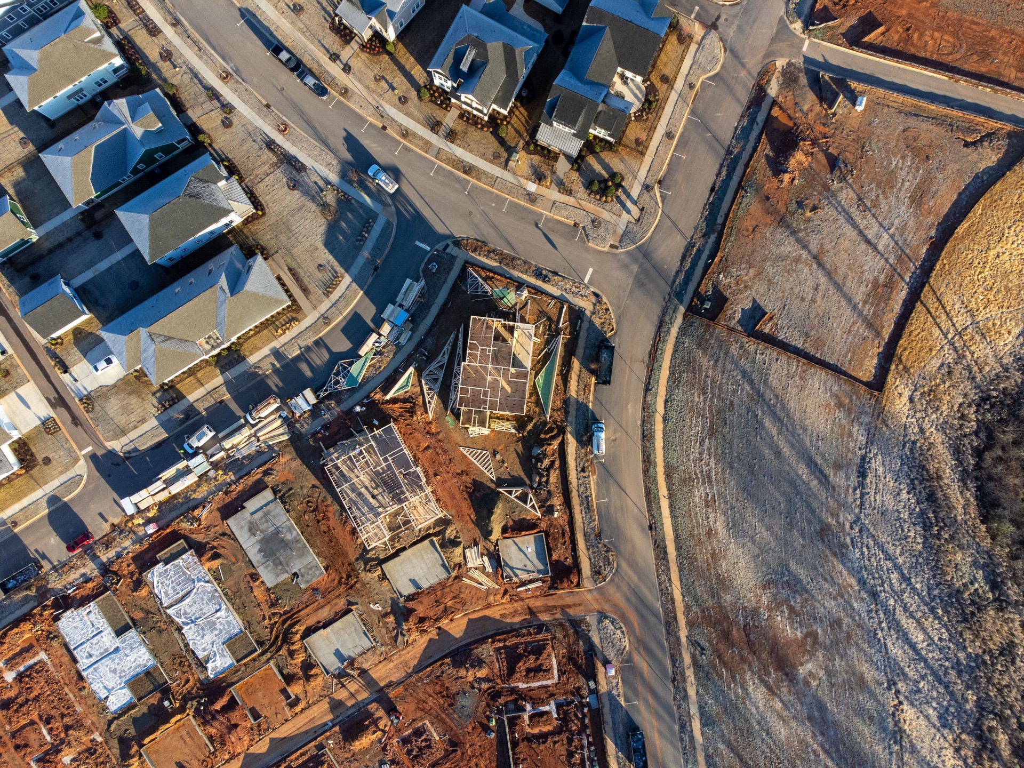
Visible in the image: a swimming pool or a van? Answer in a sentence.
Of the two, only a van appears.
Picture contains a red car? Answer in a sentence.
Yes, a red car can be made out from above.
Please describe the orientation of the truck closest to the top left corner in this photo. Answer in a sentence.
The truck closest to the top left corner has been laid out on a diagonal relative to the frame.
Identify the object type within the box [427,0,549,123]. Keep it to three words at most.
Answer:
house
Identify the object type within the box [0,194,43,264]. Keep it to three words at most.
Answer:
building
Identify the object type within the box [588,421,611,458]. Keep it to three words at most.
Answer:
vehicle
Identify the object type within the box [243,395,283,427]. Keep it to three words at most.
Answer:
van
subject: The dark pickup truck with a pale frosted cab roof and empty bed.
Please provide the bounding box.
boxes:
[266,39,303,73]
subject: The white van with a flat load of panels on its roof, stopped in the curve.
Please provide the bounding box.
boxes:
[365,161,400,192]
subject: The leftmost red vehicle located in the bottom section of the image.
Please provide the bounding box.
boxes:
[62,532,93,556]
